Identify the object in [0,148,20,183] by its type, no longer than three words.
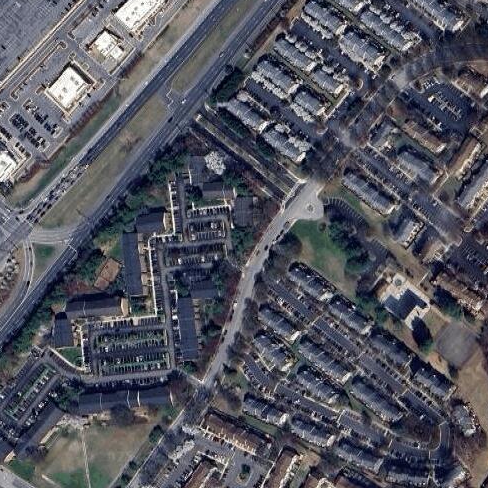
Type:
building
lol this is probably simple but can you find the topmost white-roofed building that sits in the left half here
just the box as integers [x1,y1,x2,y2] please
[115,0,171,32]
